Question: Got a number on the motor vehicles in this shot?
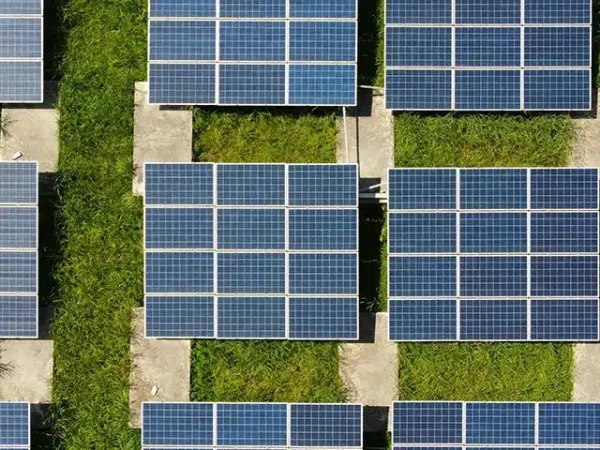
0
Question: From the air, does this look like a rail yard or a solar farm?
solar farm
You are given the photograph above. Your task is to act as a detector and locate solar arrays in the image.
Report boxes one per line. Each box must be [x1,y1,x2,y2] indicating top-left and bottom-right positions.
[144,162,359,339]
[0,161,39,338]
[141,401,363,450]
[0,400,31,450]
[384,0,591,111]
[0,0,45,103]
[148,0,358,106]
[391,401,600,450]
[387,168,599,341]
